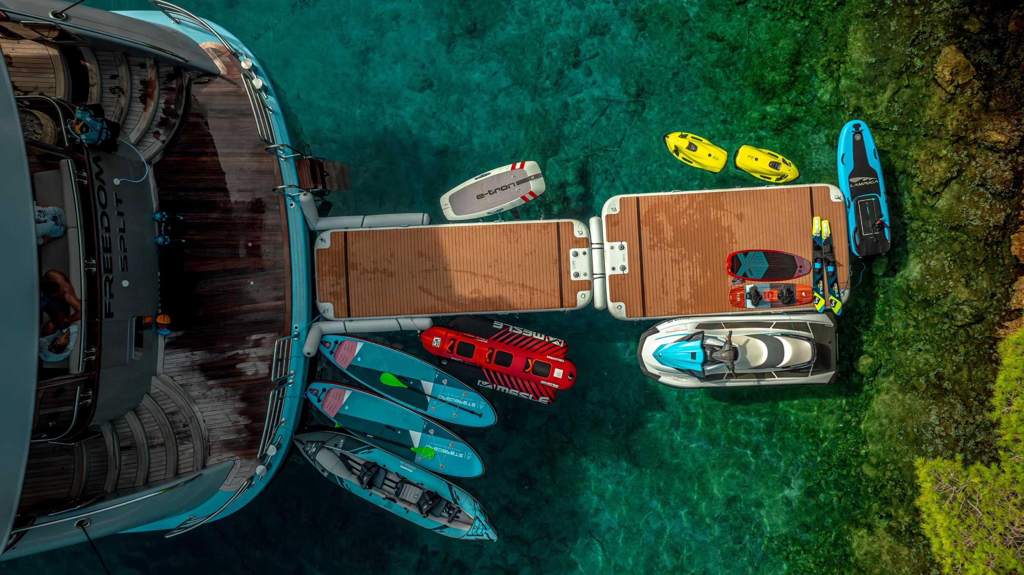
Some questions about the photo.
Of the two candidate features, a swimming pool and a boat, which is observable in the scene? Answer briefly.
boat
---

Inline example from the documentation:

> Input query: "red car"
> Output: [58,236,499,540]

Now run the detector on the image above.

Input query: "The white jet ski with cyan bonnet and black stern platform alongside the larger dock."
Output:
[632,311,839,388]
